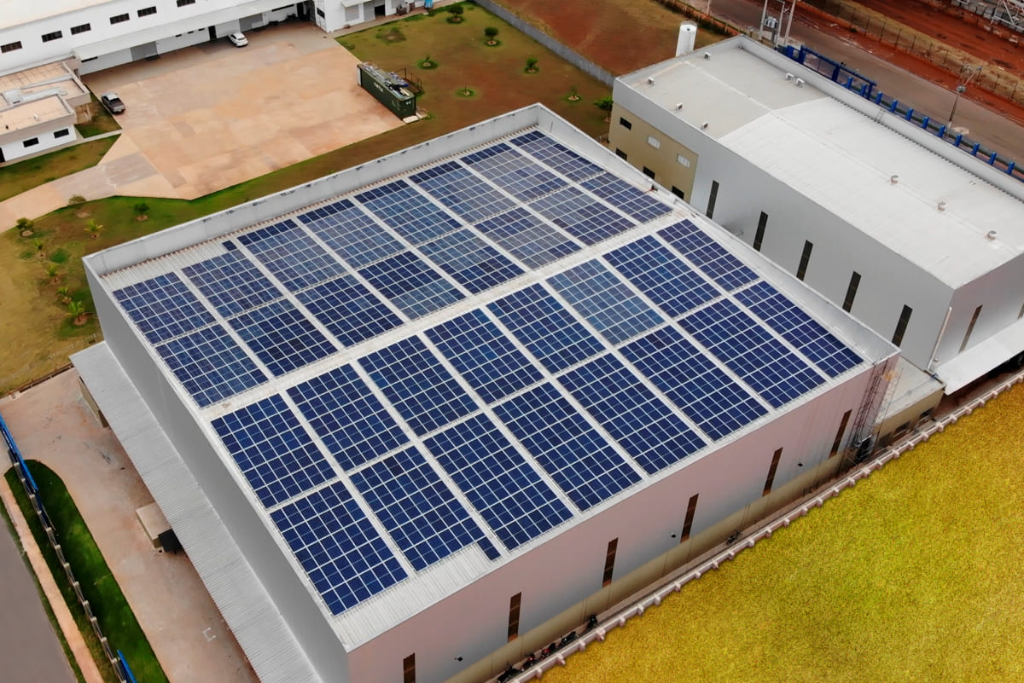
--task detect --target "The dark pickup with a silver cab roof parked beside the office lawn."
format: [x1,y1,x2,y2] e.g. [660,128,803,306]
[96,90,126,112]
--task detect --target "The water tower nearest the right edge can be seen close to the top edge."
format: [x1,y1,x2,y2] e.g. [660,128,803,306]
[674,19,699,57]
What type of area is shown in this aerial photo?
industrial area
